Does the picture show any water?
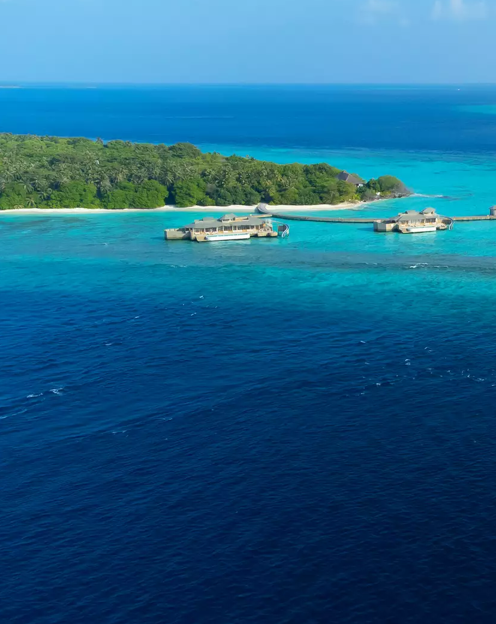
Yes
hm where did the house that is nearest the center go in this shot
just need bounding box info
[168,214,282,242]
